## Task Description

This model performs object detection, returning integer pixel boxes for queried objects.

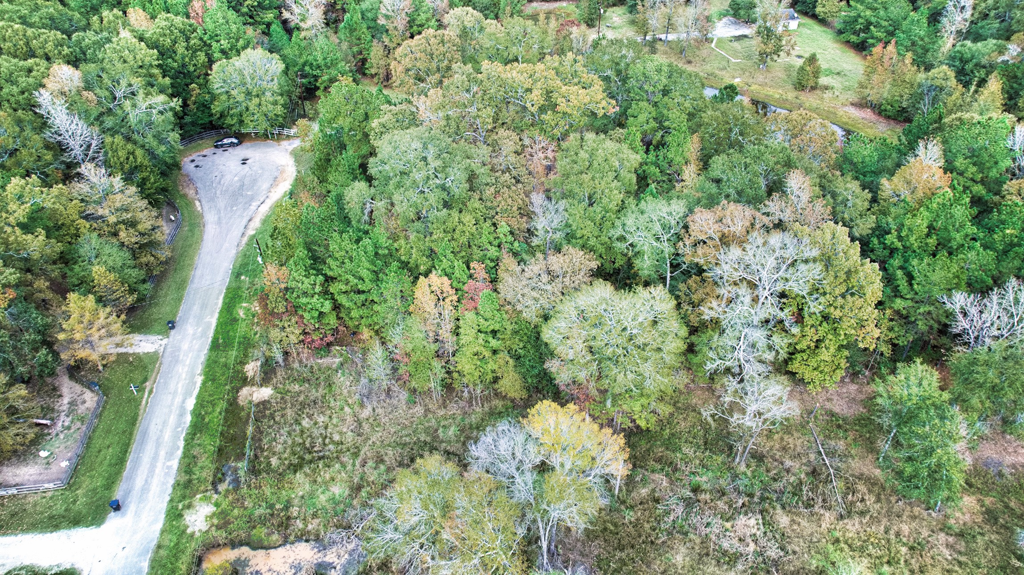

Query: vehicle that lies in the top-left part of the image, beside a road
[213,133,242,146]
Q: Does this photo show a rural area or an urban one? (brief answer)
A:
rural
